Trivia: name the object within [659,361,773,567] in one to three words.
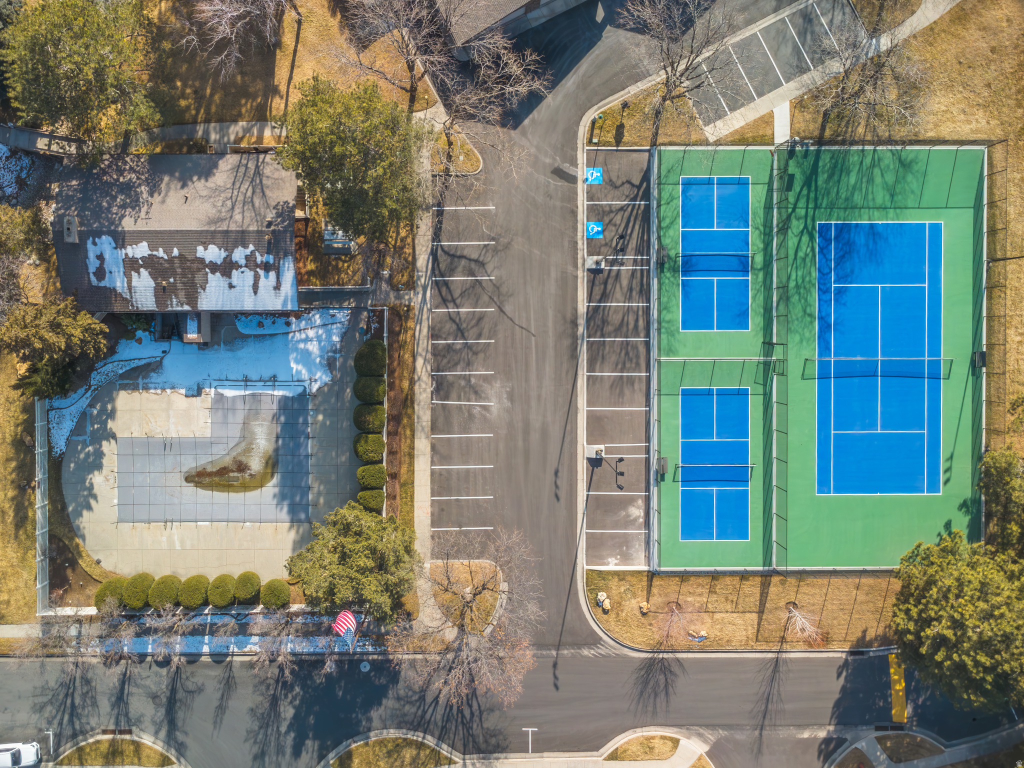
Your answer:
sports court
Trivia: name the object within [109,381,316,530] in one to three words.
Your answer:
swimming pool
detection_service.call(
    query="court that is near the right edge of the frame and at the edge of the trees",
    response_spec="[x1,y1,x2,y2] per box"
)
[776,148,986,567]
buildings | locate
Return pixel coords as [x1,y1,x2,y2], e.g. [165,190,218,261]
[441,0,581,50]
[52,152,300,342]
